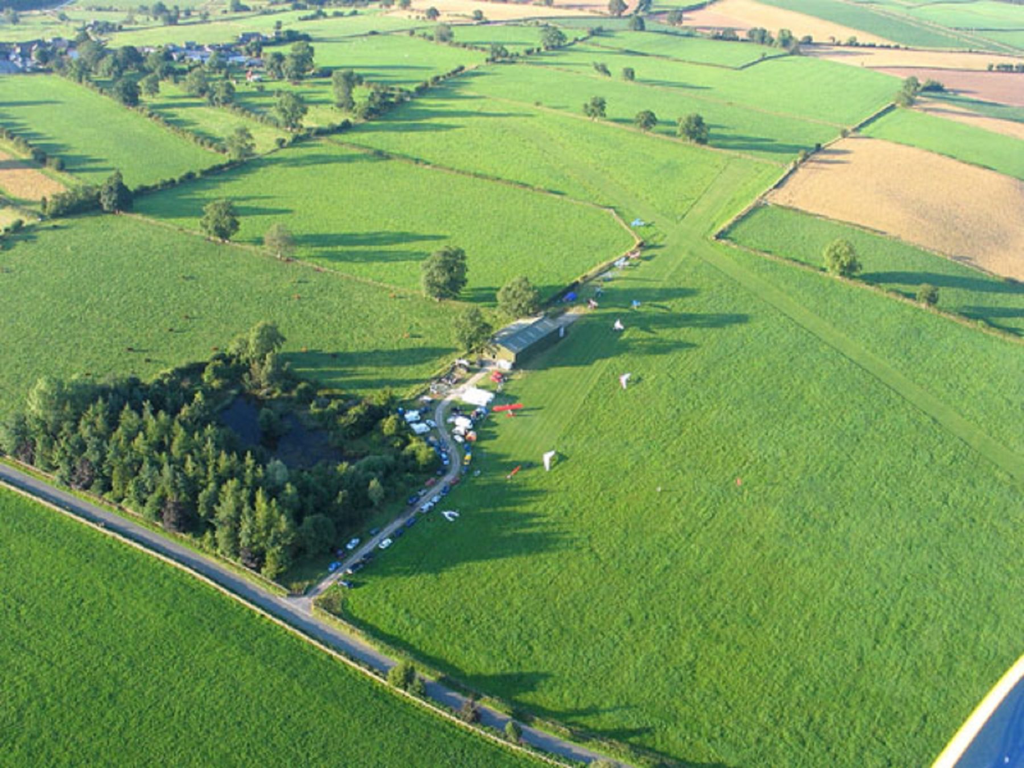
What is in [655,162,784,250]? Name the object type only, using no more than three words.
runway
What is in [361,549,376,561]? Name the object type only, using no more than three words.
vehicle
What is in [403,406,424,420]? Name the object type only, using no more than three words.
camper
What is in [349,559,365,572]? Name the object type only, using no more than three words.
vehicle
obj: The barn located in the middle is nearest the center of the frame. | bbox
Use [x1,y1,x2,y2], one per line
[485,310,570,366]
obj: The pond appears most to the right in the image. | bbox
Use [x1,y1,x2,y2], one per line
[275,412,339,464]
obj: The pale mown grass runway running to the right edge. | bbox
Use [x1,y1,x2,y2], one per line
[535,137,1024,483]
